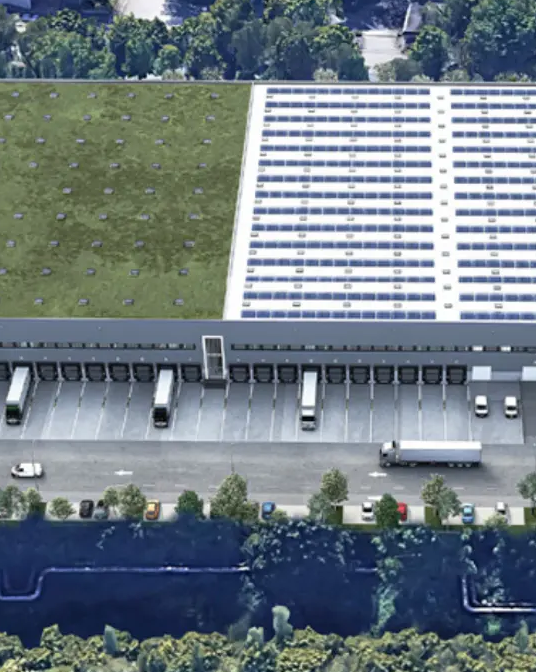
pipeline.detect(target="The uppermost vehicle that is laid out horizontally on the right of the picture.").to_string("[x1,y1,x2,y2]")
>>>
[380,441,483,468]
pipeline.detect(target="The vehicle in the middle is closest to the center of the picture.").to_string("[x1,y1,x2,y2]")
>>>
[300,371,319,431]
